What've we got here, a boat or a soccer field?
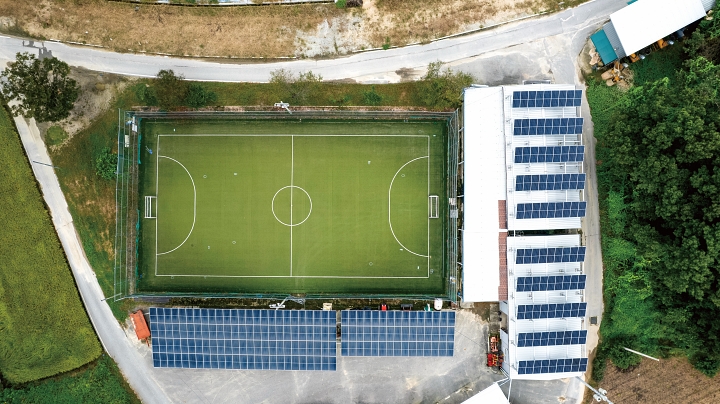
soccer field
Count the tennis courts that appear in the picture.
zero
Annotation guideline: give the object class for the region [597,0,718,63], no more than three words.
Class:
barn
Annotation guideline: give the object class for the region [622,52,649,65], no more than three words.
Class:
vehicle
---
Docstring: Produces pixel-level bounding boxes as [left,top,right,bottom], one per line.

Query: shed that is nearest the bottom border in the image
[461,373,508,404]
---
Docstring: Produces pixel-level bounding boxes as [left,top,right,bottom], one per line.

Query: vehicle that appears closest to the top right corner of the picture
[650,39,676,53]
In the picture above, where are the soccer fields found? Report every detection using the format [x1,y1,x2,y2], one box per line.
[141,118,449,294]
